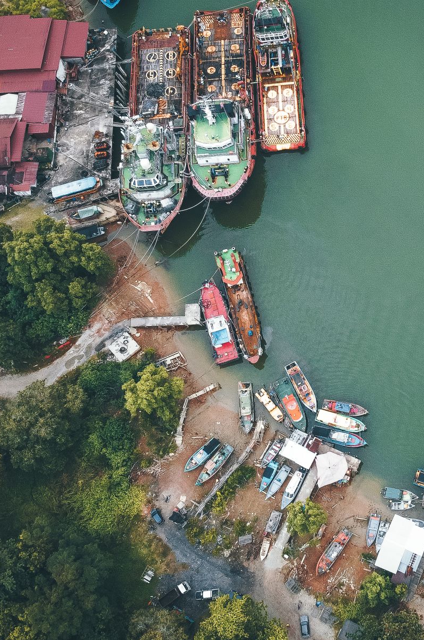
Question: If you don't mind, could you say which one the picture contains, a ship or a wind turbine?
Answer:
ship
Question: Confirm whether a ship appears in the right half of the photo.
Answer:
Yes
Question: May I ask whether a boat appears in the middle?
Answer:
Yes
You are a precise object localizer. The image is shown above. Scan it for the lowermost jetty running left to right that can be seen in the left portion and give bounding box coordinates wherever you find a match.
[130,304,201,327]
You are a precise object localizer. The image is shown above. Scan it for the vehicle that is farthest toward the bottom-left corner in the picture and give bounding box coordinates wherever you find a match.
[157,581,191,611]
